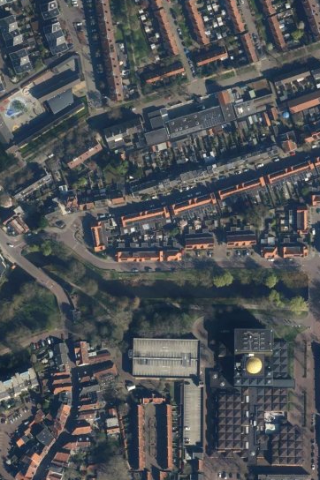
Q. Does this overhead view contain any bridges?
Yes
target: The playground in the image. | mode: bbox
[0,87,34,116]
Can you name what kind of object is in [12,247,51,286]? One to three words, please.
bridge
